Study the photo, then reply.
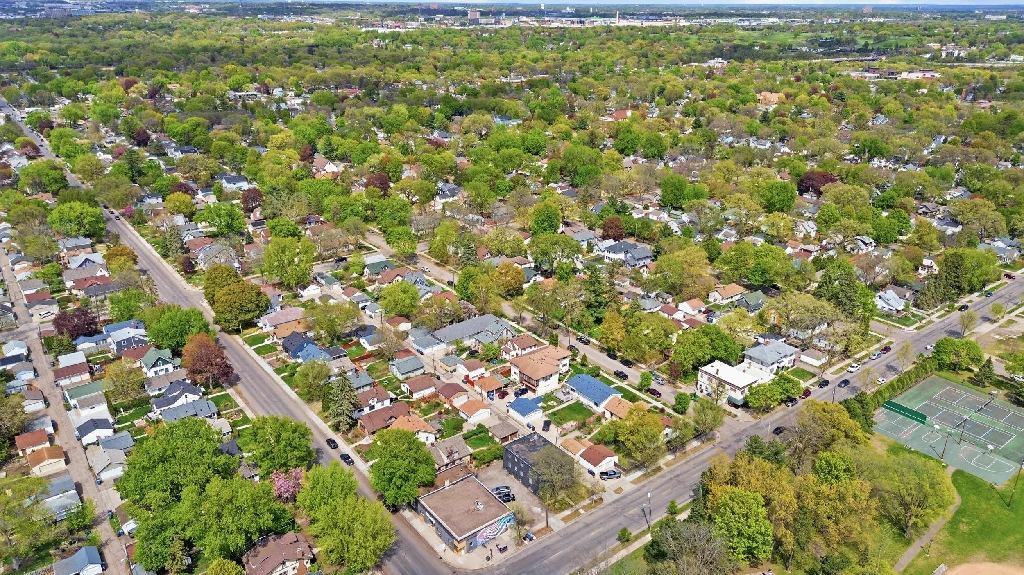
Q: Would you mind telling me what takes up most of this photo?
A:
trees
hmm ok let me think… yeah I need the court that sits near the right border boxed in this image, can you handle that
[868,373,1024,487]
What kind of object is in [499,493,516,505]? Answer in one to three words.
vehicle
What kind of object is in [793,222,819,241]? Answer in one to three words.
house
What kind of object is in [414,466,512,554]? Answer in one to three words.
building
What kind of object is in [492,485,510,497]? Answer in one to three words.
vehicle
